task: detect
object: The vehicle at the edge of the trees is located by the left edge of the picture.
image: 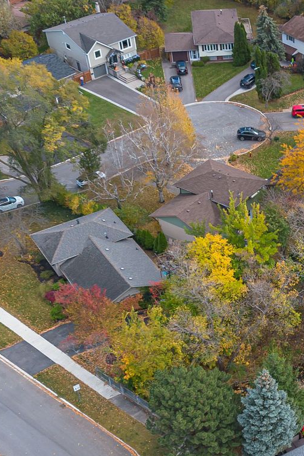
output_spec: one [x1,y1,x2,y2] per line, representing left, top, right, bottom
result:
[0,195,23,210]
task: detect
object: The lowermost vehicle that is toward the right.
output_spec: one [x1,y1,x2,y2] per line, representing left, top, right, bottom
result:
[236,126,265,141]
